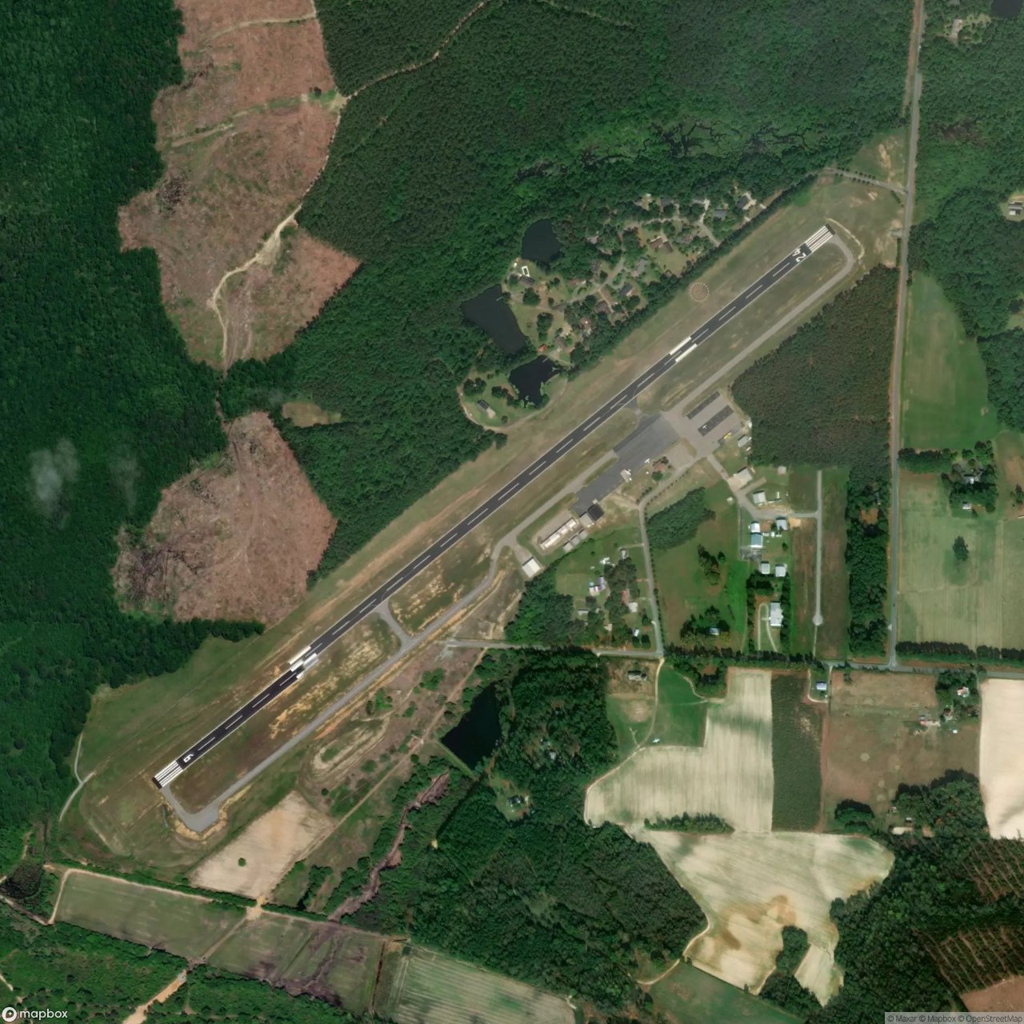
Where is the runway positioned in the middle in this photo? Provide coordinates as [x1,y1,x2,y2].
[153,224,835,788]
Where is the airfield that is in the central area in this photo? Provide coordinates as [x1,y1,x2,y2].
[153,224,854,831]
